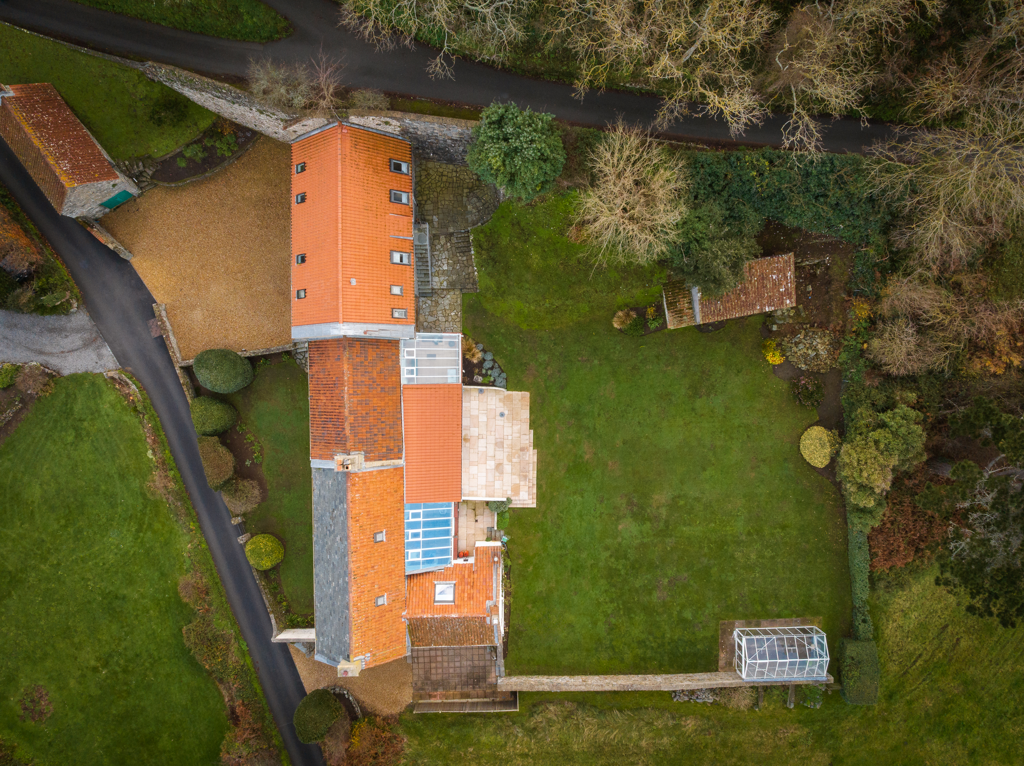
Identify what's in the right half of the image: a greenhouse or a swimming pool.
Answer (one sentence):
Looking in the right half of the image, you will find a greenhouse.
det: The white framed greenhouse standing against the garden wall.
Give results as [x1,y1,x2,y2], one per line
[735,626,831,683]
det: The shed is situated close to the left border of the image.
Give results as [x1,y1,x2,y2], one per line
[0,83,141,219]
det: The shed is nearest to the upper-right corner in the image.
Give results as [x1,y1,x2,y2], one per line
[661,252,796,328]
